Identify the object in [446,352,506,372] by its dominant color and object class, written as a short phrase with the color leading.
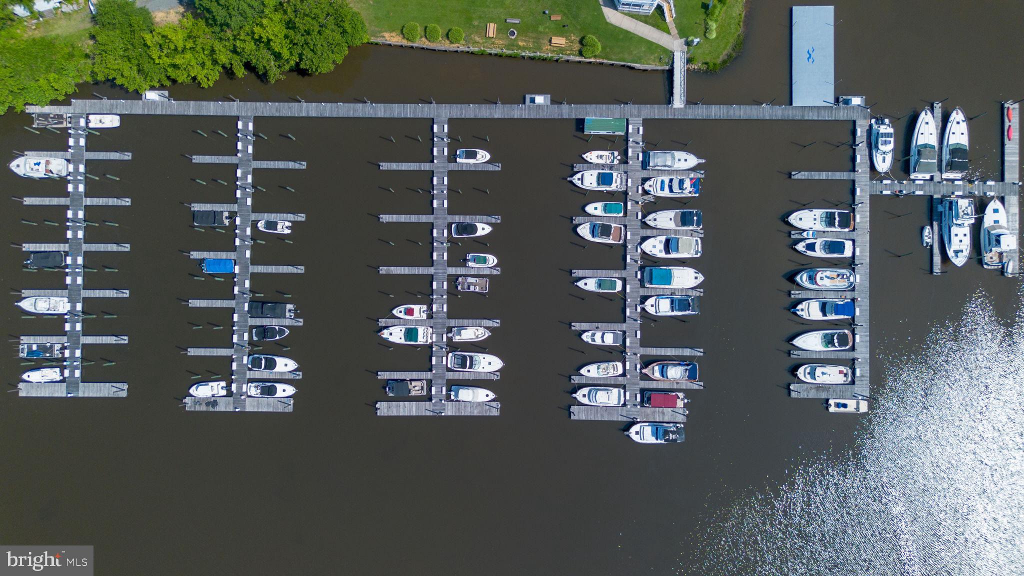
white boat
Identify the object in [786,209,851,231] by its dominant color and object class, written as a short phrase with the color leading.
white boat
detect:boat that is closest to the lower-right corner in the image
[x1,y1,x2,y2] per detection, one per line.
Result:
[818,399,868,412]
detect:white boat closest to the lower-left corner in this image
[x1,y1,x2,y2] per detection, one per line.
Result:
[19,368,64,383]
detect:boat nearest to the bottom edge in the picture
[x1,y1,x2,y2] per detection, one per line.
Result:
[624,422,685,443]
